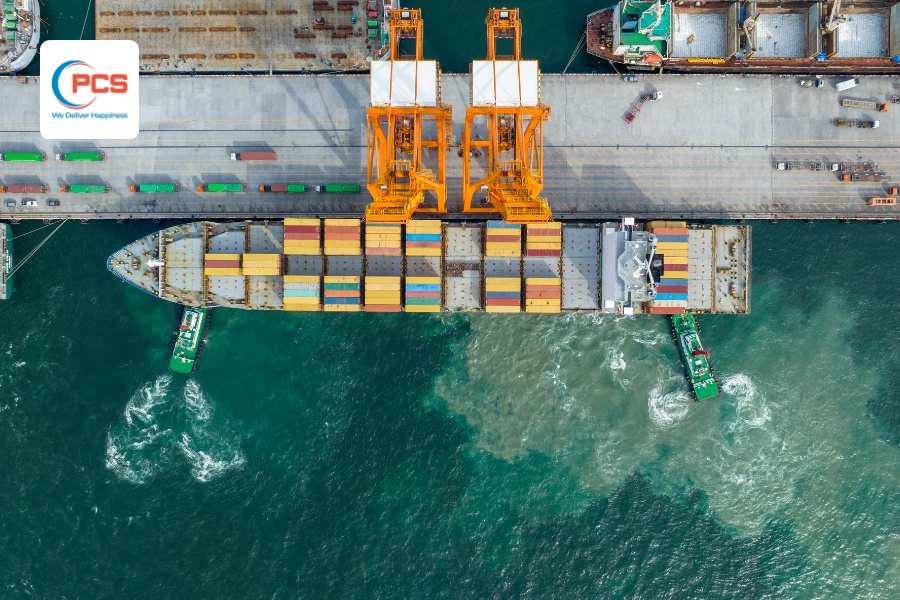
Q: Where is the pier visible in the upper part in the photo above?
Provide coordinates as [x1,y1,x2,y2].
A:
[0,70,900,224]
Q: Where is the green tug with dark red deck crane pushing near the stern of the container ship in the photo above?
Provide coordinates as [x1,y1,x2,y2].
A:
[672,314,722,401]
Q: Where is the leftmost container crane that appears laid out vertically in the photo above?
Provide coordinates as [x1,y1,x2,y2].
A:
[364,2,454,227]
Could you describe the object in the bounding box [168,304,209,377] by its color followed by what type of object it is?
green boat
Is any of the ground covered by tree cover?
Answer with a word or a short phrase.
No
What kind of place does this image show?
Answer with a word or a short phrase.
port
